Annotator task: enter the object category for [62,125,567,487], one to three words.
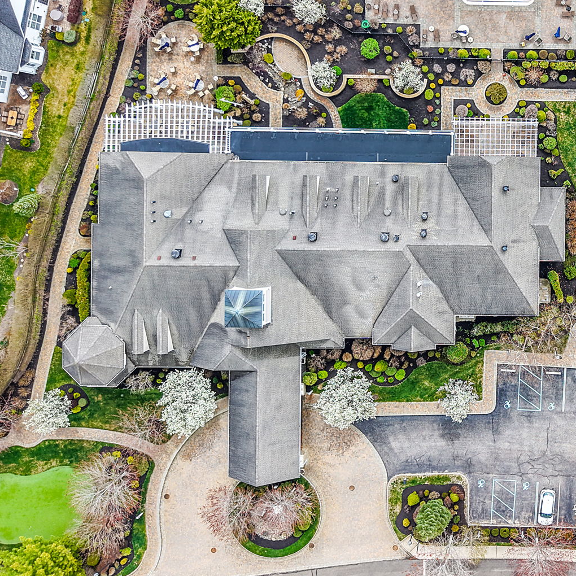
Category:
building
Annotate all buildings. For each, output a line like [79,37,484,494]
[0,0,50,124]
[62,125,567,487]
